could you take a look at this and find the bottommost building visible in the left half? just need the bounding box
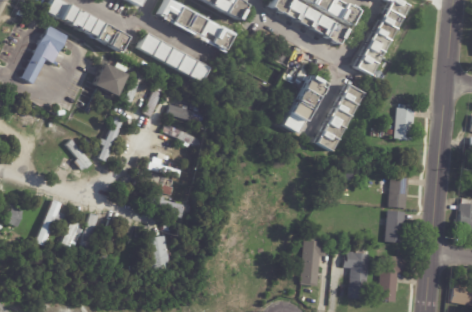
[154,236,170,268]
